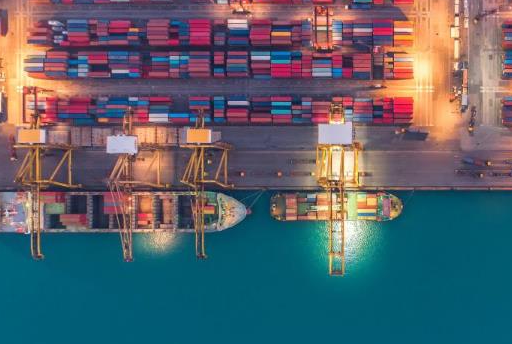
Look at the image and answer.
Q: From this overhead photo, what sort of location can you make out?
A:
port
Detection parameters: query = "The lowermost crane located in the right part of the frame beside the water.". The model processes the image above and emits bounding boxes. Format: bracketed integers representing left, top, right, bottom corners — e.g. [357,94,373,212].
[316,99,368,281]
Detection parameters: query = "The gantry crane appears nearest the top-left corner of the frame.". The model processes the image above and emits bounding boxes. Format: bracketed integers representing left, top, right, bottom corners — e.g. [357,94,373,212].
[22,85,62,129]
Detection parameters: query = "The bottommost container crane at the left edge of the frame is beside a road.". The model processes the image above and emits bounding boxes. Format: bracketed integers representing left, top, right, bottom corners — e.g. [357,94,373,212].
[11,110,90,260]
